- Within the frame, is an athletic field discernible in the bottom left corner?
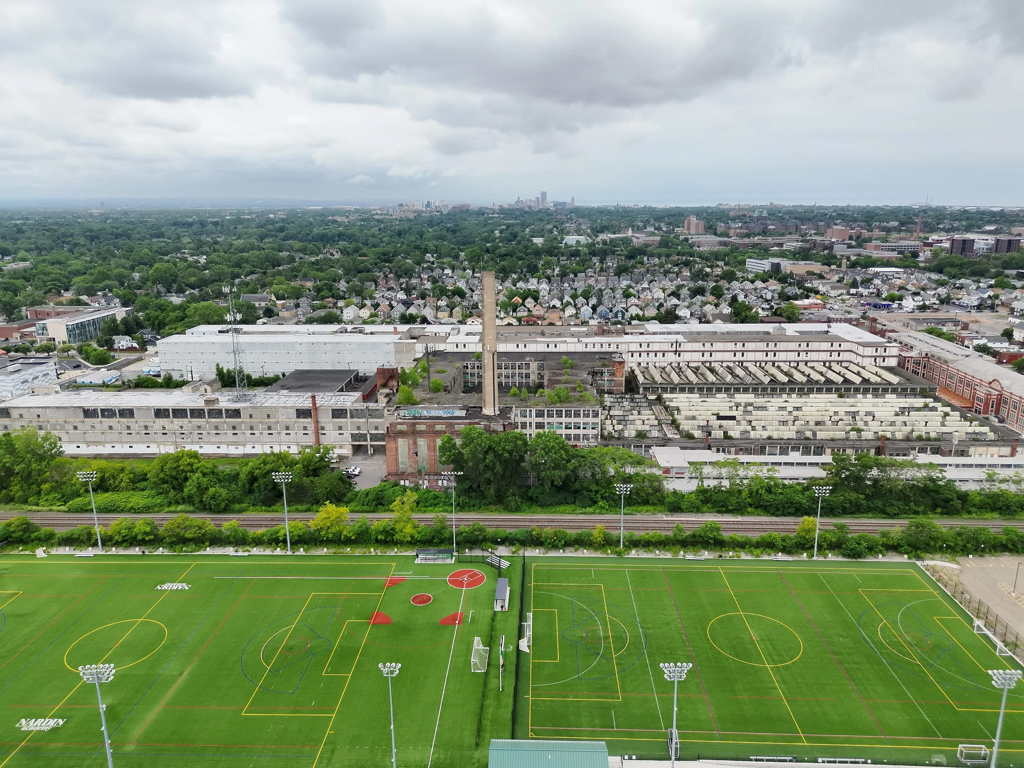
Yes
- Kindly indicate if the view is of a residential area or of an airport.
residential area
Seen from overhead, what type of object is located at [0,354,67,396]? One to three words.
building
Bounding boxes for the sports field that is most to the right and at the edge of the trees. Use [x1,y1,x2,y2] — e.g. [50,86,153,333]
[514,556,1024,768]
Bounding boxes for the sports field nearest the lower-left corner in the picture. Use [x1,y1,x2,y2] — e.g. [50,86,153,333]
[0,554,524,768]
